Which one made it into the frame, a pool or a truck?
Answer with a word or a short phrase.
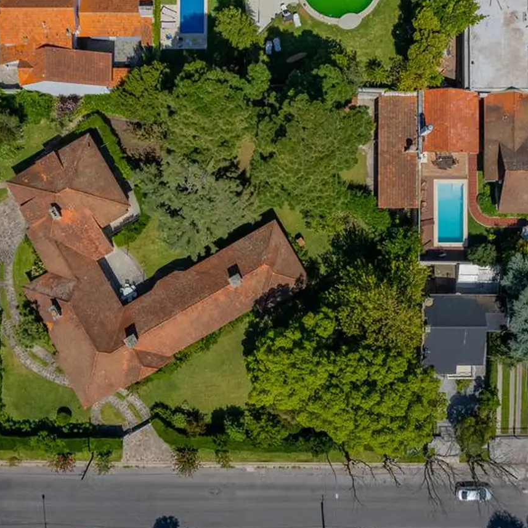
pool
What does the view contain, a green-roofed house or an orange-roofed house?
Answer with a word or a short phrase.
orange-roofed house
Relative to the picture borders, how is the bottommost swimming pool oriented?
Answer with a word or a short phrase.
up and down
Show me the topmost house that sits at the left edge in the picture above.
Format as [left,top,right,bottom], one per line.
[0,0,153,91]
